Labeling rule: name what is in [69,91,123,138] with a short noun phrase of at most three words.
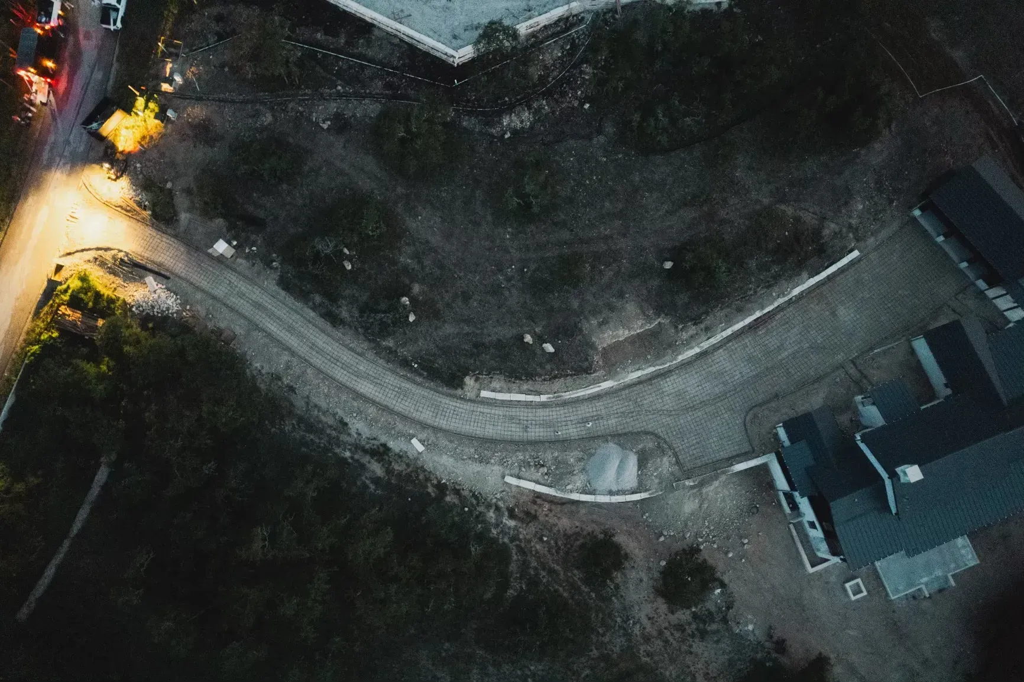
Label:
trailer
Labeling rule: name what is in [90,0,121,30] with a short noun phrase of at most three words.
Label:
truck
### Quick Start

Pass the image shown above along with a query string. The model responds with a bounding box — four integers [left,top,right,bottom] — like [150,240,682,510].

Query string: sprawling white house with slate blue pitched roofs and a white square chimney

[769,314,1024,571]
